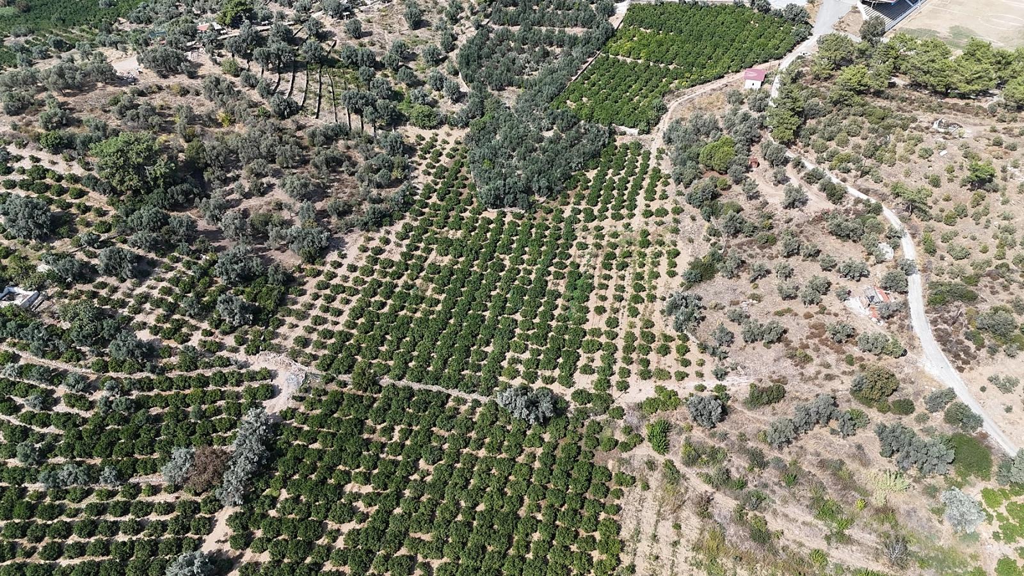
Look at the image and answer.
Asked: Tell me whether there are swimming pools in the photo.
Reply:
No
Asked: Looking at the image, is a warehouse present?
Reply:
No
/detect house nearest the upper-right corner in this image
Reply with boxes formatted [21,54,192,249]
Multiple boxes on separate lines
[744,69,765,90]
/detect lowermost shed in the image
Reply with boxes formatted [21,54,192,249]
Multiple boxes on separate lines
[864,286,888,317]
